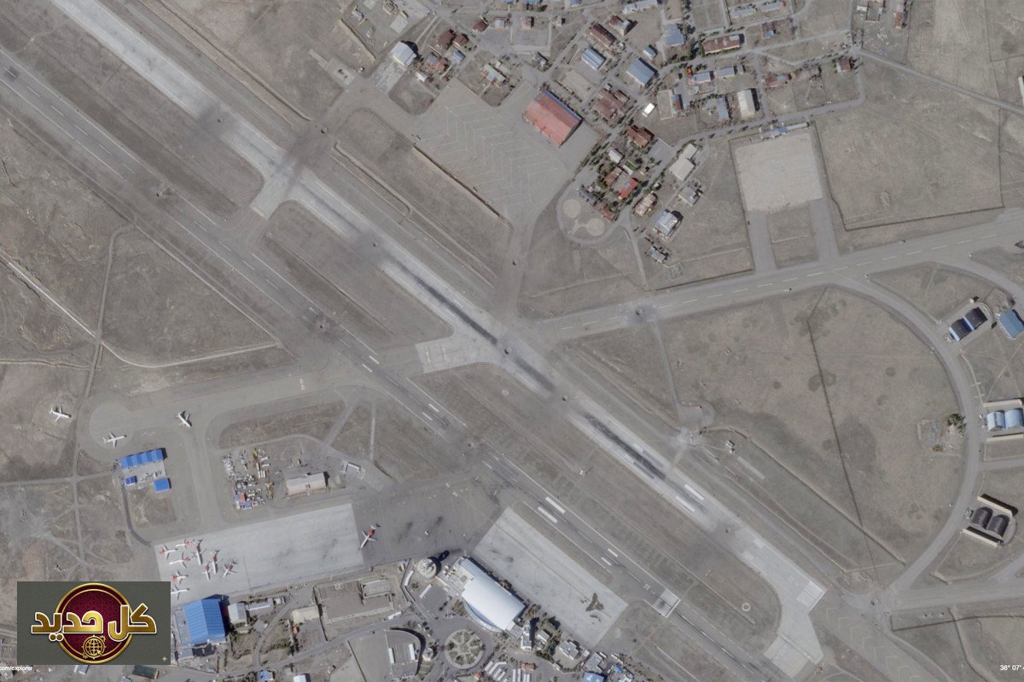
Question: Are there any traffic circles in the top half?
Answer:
No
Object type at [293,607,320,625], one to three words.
building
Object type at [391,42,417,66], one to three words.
hangar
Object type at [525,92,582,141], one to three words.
hangar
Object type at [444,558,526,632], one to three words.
building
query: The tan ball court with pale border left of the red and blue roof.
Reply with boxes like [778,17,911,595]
[657,90,677,120]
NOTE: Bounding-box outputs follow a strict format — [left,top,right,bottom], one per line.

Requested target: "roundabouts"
[445,630,483,668]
